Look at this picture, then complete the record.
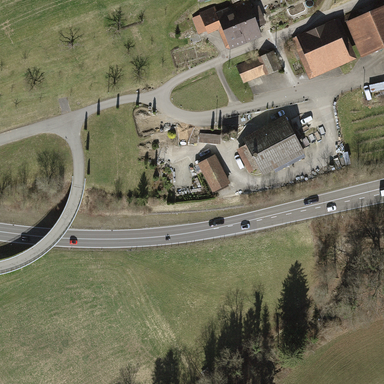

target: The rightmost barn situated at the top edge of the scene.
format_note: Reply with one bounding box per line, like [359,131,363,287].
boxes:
[345,5,384,57]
